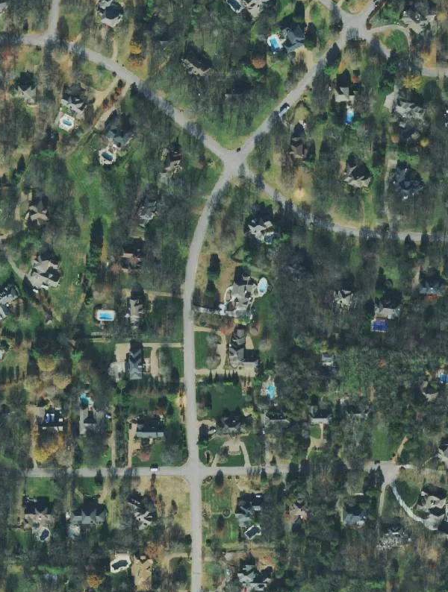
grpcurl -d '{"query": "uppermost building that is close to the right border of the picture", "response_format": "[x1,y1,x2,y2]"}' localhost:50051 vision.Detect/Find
[401,6,436,29]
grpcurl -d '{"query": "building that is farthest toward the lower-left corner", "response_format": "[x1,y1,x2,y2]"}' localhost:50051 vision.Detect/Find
[22,502,50,523]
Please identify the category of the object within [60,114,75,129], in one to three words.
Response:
swimming pool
